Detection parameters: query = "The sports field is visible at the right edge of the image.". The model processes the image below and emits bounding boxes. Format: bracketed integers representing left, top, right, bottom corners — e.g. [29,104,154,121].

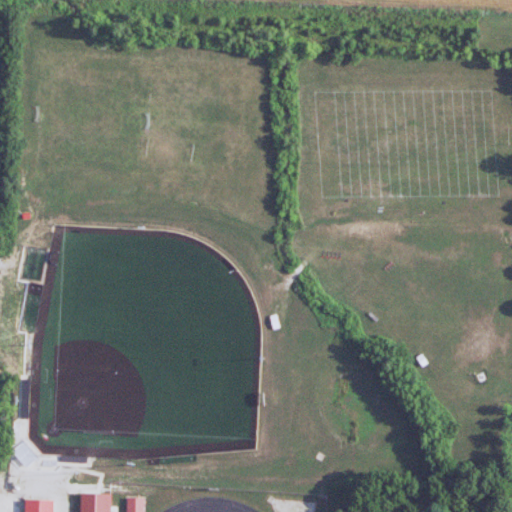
[314,88,510,200]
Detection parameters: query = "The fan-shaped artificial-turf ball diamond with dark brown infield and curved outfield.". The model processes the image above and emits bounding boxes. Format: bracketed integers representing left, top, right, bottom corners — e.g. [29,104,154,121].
[30,227,261,458]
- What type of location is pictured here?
sports ground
